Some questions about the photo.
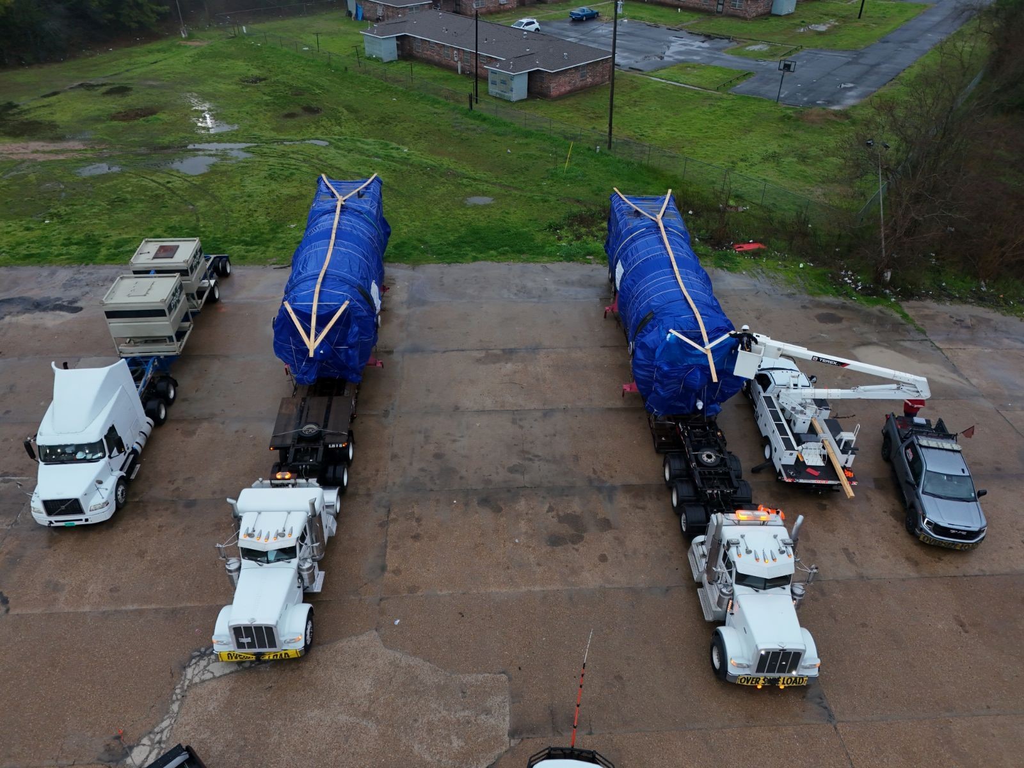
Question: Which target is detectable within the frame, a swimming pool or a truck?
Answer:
truck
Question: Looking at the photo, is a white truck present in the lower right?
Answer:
Yes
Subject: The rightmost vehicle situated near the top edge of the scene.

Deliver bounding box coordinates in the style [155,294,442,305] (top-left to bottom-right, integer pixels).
[568,8,599,20]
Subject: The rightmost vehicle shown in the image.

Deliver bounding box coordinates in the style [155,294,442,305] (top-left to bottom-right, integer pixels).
[881,413,993,557]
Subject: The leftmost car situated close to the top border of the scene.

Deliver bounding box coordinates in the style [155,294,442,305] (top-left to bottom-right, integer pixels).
[510,17,541,30]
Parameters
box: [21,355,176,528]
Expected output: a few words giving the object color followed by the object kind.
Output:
white truck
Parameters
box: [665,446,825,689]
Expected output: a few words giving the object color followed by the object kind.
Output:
white truck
